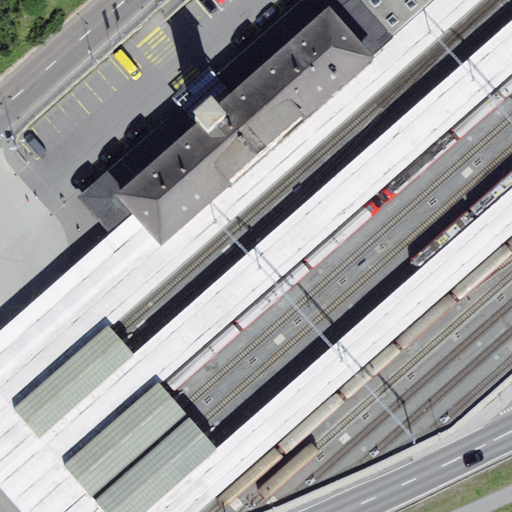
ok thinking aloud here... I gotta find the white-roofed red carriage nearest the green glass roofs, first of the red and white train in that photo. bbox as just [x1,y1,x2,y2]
[168,322,242,389]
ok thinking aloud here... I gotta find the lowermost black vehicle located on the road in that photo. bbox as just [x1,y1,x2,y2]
[463,452,484,467]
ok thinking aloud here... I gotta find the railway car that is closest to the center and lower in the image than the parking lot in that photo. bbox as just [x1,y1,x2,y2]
[236,260,312,329]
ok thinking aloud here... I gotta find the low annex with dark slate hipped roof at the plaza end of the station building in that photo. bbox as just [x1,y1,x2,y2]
[78,174,134,232]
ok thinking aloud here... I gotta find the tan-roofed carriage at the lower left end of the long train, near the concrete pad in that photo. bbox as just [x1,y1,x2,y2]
[216,444,282,505]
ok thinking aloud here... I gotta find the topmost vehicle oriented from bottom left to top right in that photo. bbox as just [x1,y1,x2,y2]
[256,5,279,27]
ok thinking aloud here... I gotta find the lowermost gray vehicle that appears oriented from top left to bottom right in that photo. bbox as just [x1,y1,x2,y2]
[25,130,46,157]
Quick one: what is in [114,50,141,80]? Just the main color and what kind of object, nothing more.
yellow vehicle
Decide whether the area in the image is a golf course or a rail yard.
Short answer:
rail yard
